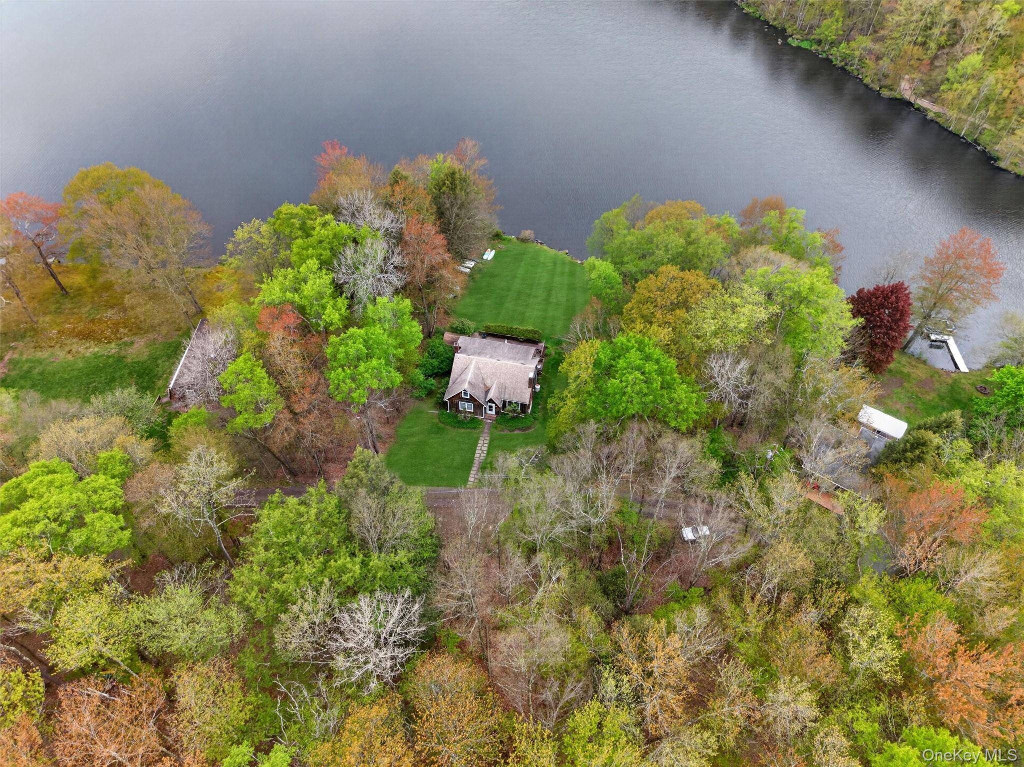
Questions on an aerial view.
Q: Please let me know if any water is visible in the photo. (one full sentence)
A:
Yes, there is water in the image.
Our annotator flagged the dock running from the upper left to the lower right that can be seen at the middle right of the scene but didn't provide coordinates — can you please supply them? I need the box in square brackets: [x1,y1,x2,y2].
[929,333,968,372]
